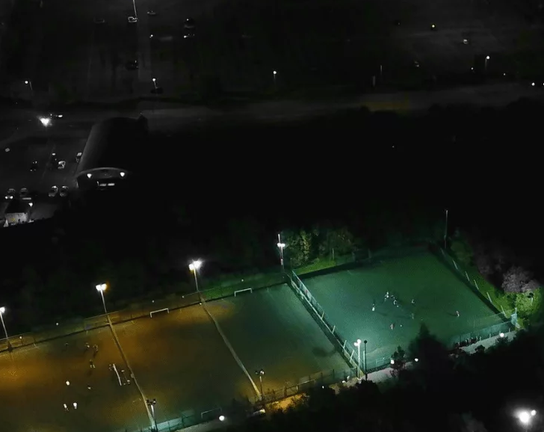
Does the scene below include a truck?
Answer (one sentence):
No, I can see no truck in this picture.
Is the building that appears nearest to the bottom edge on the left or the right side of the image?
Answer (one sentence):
The building that appears nearest to the bottom edge sits on the left side.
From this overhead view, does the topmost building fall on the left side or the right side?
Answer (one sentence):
It is on the left.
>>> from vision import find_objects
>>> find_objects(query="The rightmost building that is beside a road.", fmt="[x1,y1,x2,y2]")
[75,100,156,188]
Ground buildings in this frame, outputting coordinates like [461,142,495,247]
[1,198,33,224]
[75,100,156,188]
